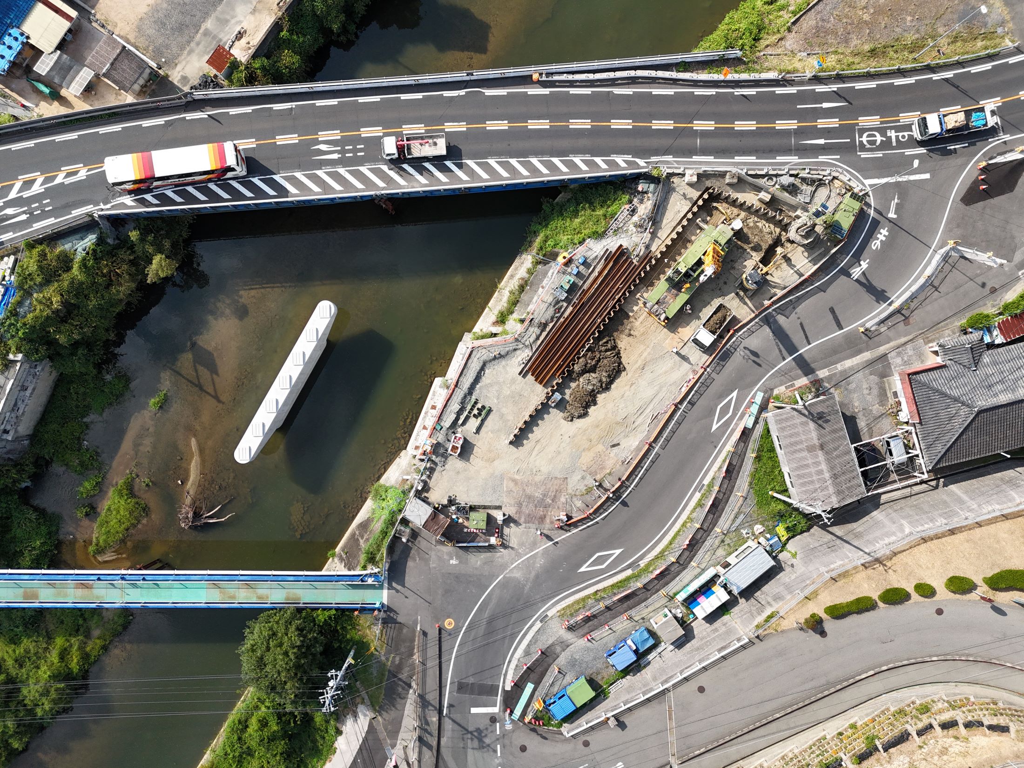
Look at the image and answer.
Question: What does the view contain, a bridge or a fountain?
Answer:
bridge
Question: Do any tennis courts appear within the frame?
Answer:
No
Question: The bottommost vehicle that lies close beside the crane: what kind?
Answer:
truck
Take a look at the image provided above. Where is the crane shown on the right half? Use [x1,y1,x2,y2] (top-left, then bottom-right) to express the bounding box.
[636,218,736,326]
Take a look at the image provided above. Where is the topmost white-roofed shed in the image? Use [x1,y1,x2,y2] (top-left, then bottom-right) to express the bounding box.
[19,0,78,57]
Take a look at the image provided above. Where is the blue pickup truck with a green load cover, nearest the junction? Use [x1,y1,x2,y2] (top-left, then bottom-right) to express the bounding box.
[540,670,601,729]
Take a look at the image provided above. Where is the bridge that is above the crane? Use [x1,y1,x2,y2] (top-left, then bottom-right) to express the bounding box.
[99,46,741,227]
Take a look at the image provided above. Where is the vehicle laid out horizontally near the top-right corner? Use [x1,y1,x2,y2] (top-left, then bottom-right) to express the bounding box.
[907,102,997,143]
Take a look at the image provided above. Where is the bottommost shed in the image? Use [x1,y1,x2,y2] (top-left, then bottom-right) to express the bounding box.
[647,605,684,645]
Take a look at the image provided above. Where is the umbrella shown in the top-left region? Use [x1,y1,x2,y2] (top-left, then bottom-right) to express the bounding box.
[27,78,69,106]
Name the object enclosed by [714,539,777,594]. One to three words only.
shed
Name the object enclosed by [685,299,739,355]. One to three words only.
truck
